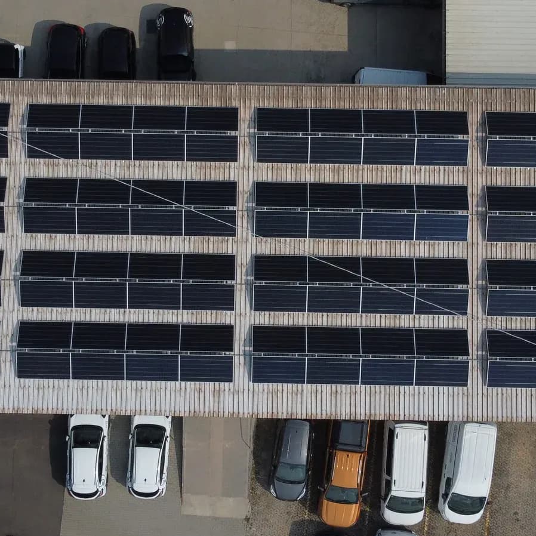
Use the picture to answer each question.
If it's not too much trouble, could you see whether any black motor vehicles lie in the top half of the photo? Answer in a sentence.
Yes, I can see a black motor vehicle in the top half of the photo.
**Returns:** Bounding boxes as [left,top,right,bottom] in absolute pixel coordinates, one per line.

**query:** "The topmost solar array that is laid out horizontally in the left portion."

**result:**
[24,104,239,165]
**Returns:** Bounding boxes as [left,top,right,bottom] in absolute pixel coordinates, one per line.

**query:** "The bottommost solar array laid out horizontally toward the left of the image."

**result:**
[15,322,234,387]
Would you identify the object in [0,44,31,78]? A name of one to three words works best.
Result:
car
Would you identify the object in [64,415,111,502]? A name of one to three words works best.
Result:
car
